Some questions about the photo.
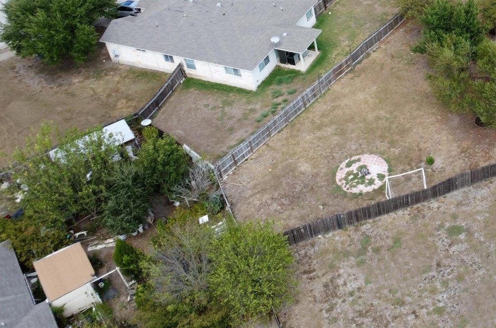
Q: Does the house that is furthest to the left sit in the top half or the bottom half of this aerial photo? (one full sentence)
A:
You can find the house that is furthest to the left in the bottom half.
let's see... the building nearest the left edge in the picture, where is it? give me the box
[0,220,59,328]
